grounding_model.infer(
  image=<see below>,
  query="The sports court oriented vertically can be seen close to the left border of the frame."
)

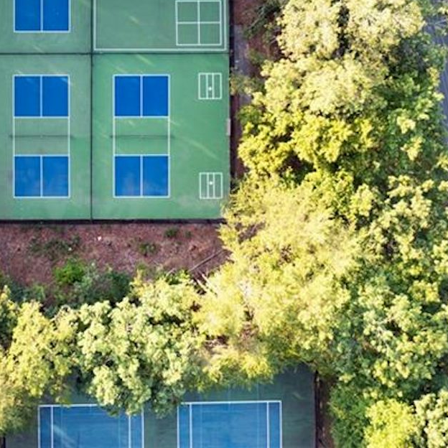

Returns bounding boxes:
[13,75,70,198]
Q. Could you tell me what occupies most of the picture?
trees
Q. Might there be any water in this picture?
No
